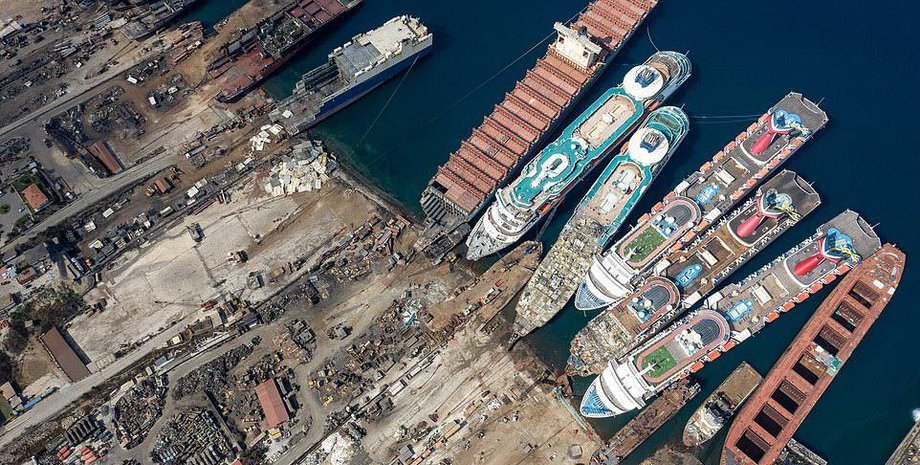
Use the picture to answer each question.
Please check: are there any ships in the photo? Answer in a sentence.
Yes, you can see a ship in this photo.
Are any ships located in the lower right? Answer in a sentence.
Yes, looking in the lower right, one can make out a ship.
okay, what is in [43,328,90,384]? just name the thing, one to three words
shed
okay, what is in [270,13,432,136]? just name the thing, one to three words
ship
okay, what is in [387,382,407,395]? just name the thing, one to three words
vehicle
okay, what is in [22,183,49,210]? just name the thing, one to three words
house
